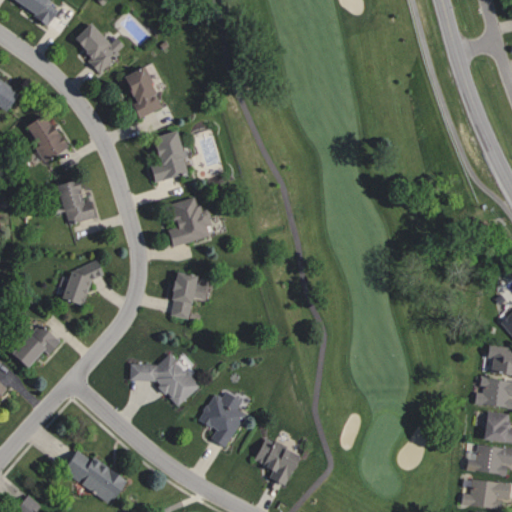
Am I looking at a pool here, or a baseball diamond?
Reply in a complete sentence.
I can see a pool in this picture.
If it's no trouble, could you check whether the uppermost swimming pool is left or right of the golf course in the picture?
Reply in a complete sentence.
Relative to the golf course, the uppermost swimming pool lies to the left.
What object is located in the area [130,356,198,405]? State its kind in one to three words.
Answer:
house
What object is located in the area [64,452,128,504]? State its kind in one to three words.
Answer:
house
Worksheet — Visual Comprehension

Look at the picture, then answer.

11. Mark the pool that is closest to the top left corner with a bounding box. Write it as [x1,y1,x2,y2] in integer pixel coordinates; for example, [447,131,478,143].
[115,13,150,46]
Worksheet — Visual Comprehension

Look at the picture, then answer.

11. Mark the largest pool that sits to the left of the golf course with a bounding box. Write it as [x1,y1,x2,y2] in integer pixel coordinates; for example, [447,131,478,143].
[191,129,223,180]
